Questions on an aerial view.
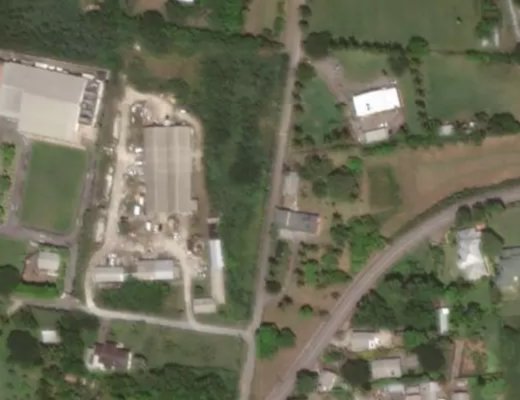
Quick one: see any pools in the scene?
No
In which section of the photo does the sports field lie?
left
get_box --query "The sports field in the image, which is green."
[21,142,86,236]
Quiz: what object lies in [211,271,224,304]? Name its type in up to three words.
shed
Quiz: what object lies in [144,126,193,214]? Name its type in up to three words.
building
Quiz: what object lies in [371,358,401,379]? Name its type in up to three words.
house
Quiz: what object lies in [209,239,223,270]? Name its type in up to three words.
shed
